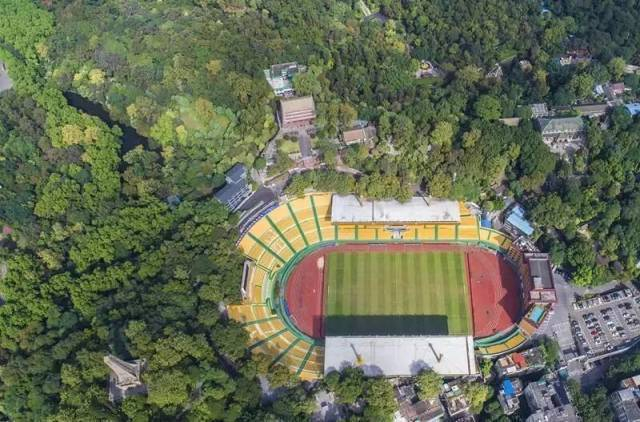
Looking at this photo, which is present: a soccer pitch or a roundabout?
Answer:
soccer pitch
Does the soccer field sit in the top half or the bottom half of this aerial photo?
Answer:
bottom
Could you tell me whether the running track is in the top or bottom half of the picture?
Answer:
bottom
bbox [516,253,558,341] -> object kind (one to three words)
building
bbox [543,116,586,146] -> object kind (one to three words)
building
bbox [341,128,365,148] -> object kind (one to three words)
house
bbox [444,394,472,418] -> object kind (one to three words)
house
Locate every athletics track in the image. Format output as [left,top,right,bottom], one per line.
[284,241,520,341]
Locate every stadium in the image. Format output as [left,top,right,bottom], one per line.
[234,189,524,393]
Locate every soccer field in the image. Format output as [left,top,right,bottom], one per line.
[324,250,471,338]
